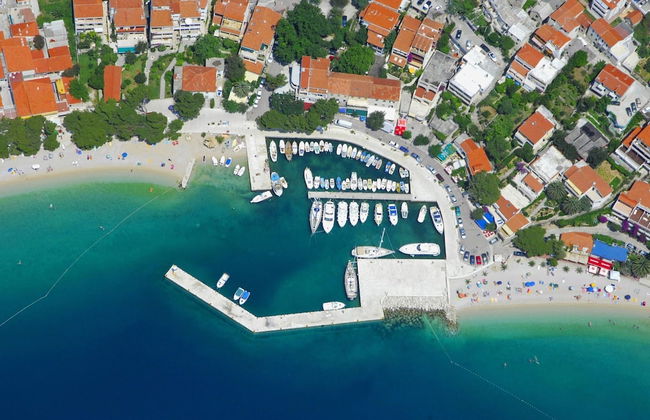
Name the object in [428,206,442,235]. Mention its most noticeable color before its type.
white boat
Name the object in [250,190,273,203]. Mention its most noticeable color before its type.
white boat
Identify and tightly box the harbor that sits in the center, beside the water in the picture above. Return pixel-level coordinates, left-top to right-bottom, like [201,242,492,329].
[209,130,490,323]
